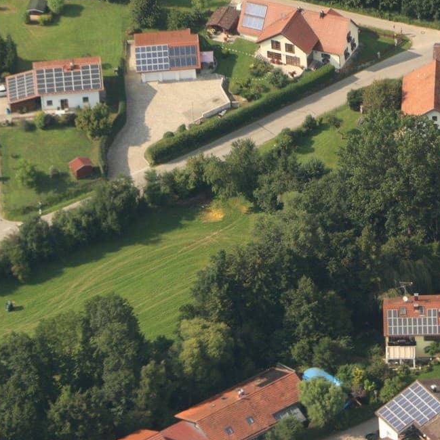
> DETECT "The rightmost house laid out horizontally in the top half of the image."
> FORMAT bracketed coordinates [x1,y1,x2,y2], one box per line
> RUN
[237,0,360,69]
